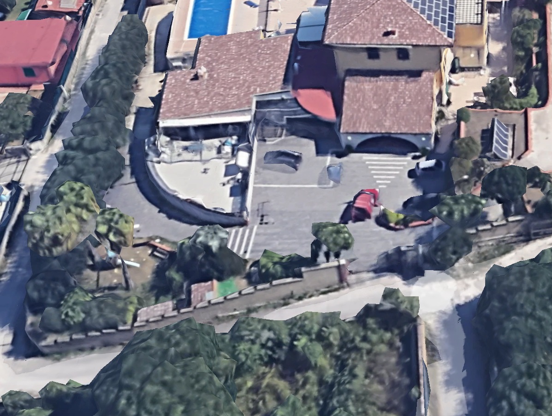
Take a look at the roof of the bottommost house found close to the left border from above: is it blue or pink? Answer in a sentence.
The roof of the bottommost house found close to the left border looks pink in the image.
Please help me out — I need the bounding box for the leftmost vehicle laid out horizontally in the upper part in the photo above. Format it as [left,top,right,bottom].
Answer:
[261,147,306,172]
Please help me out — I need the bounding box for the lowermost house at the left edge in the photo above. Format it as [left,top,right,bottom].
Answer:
[0,19,78,100]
